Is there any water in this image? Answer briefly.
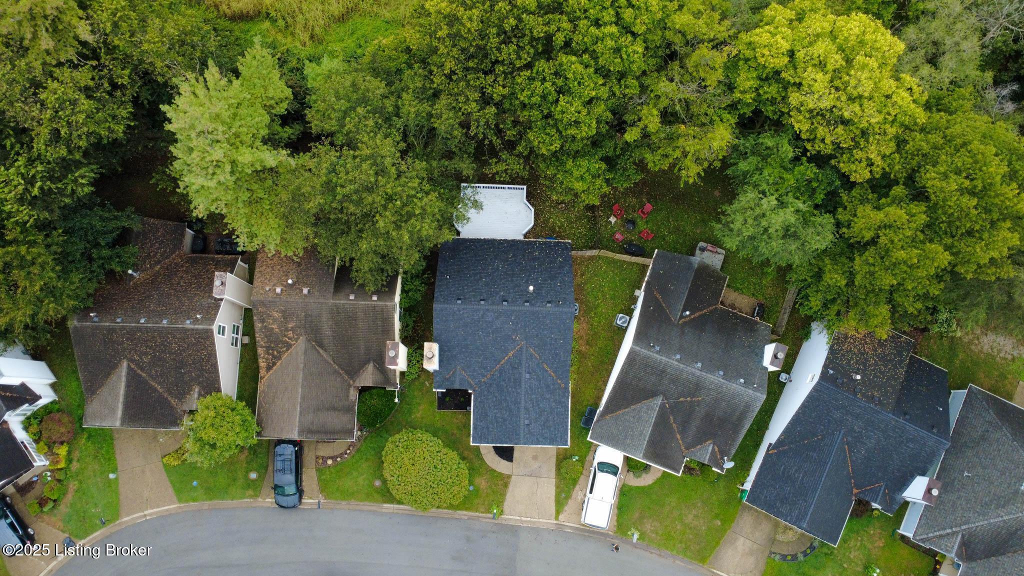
No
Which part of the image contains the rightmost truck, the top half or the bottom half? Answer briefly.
bottom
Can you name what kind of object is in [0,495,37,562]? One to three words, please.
vehicle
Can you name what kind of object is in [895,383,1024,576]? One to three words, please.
house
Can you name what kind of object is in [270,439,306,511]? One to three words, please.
car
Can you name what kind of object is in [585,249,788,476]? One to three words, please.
house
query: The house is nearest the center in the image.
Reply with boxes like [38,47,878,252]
[425,235,577,448]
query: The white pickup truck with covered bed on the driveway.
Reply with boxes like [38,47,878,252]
[583,444,625,532]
